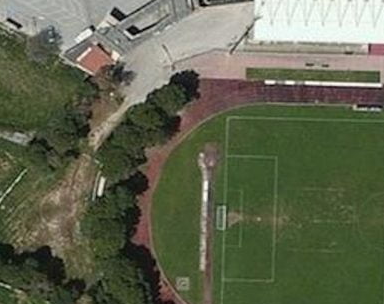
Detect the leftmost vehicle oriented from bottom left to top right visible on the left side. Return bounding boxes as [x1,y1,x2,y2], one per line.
[74,27,93,42]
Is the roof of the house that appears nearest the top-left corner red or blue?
red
